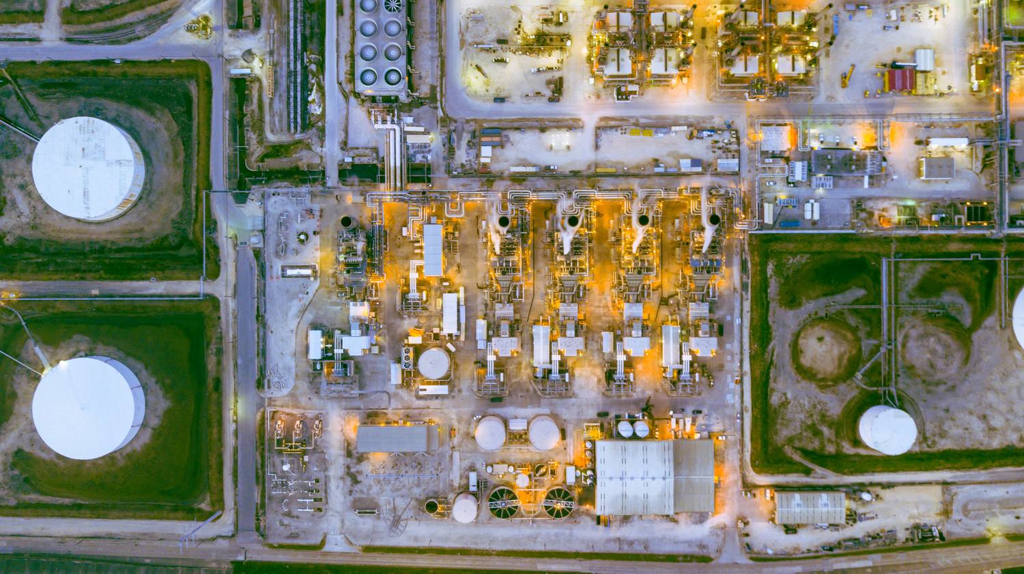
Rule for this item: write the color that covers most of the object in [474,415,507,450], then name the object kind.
white water tank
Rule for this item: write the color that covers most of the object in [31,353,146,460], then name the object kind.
white storage tank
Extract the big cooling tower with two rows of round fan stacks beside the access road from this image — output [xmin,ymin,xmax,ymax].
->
[354,0,416,107]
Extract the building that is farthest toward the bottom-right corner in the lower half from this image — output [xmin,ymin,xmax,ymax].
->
[774,489,846,524]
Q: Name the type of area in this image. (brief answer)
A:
industrial area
